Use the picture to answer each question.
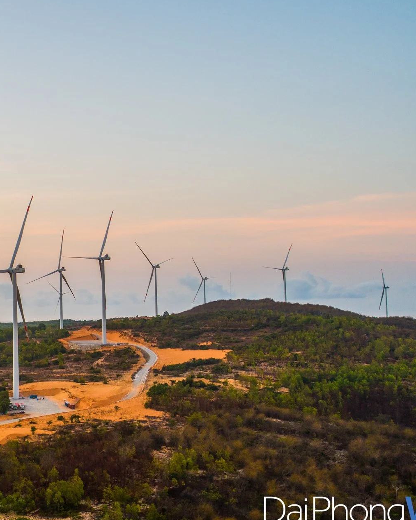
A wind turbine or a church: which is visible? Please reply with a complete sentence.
This aerial view contains a wind turbine.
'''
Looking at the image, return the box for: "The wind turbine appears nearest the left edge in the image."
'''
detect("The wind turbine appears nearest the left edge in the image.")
[0,198,31,400]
